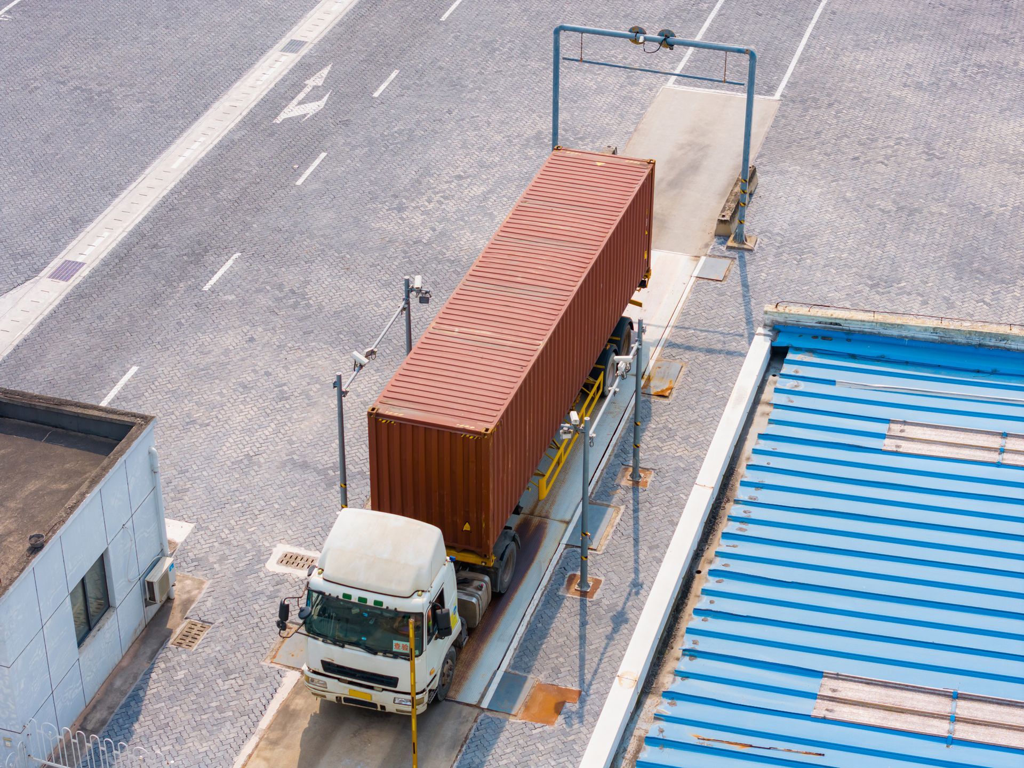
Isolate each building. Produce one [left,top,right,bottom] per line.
[0,387,178,768]
[580,302,1024,768]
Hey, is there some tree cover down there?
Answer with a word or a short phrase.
No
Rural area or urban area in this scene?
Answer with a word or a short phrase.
urban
